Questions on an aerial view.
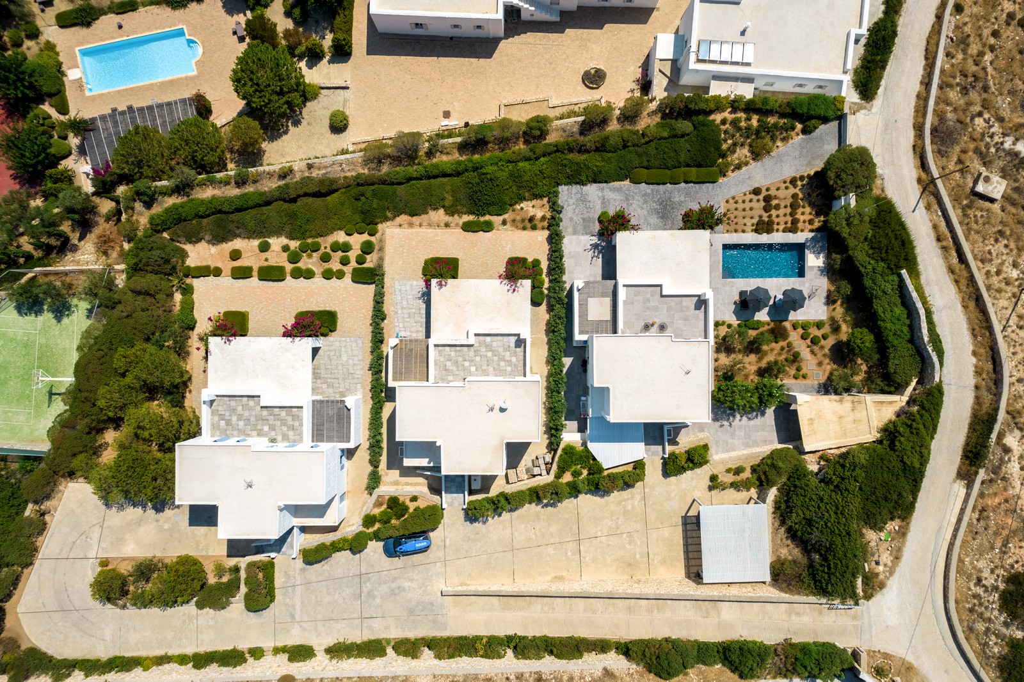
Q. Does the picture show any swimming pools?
Yes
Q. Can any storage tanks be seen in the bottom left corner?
No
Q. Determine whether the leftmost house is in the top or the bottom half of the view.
bottom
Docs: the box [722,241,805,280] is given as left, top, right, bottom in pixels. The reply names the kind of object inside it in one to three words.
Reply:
swimming pool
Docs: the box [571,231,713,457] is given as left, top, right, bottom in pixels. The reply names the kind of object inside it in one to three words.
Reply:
house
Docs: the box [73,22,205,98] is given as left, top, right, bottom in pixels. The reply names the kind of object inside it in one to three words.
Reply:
swimming pool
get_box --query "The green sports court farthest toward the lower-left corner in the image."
[0,267,123,442]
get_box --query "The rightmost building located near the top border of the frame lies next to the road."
[647,0,868,108]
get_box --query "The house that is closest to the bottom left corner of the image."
[175,337,363,557]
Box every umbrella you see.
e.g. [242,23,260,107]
[747,287,771,312]
[782,288,806,312]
